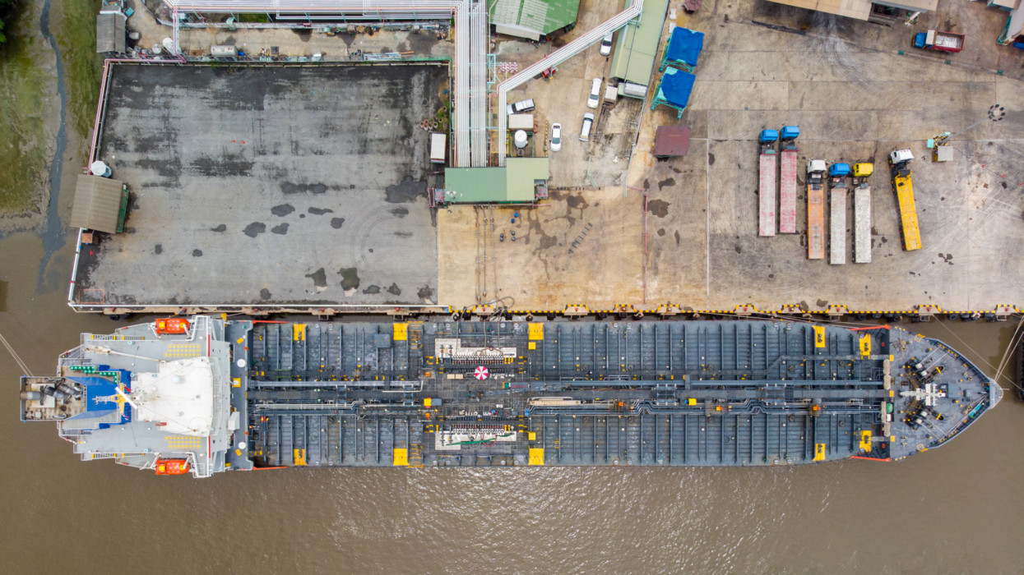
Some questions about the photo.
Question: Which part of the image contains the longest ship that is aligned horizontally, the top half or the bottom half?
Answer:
bottom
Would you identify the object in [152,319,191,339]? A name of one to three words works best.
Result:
boat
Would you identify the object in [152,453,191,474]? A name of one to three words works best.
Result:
boat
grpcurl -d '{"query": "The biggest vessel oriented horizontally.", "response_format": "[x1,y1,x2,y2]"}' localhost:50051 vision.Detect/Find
[18,314,1009,476]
